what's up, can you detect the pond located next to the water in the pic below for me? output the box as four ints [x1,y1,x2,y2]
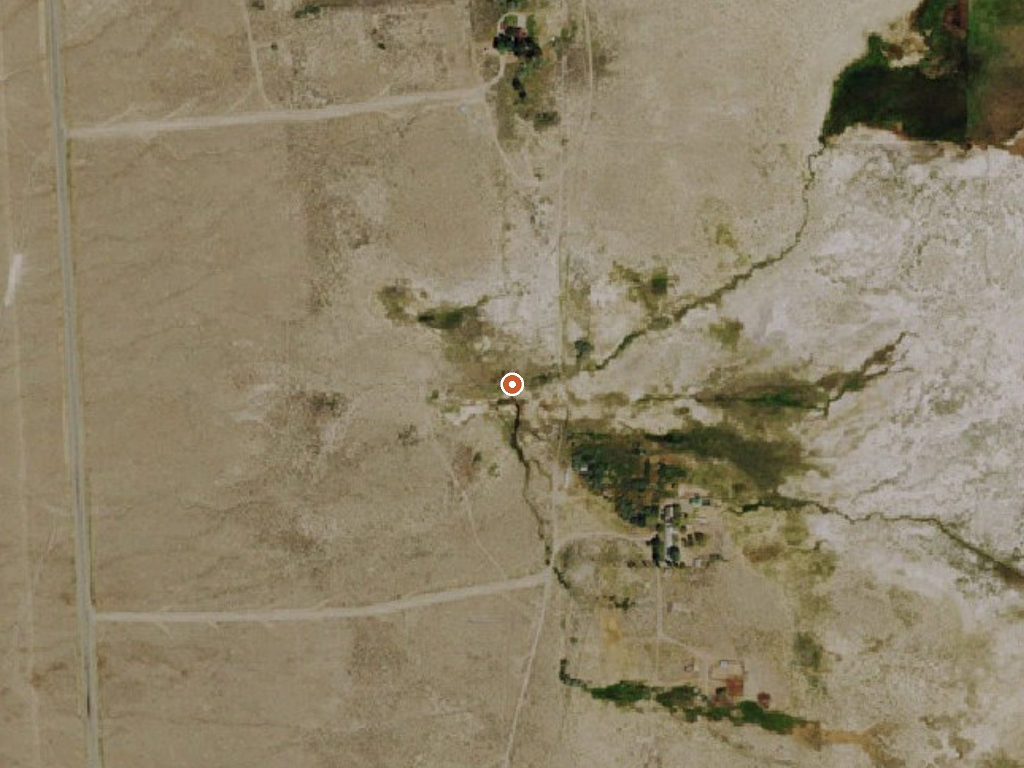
[823,0,968,141]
